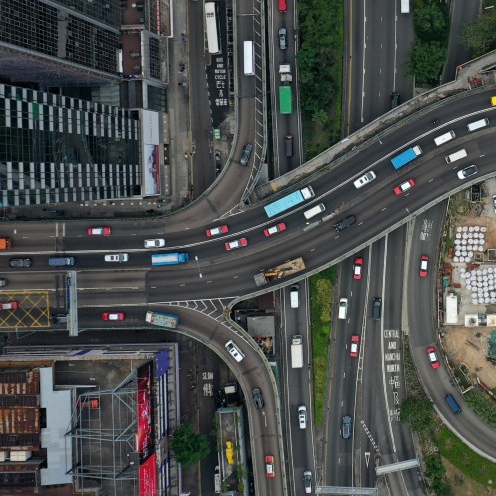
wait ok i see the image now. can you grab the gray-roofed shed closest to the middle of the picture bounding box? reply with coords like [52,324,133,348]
[248,315,276,354]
